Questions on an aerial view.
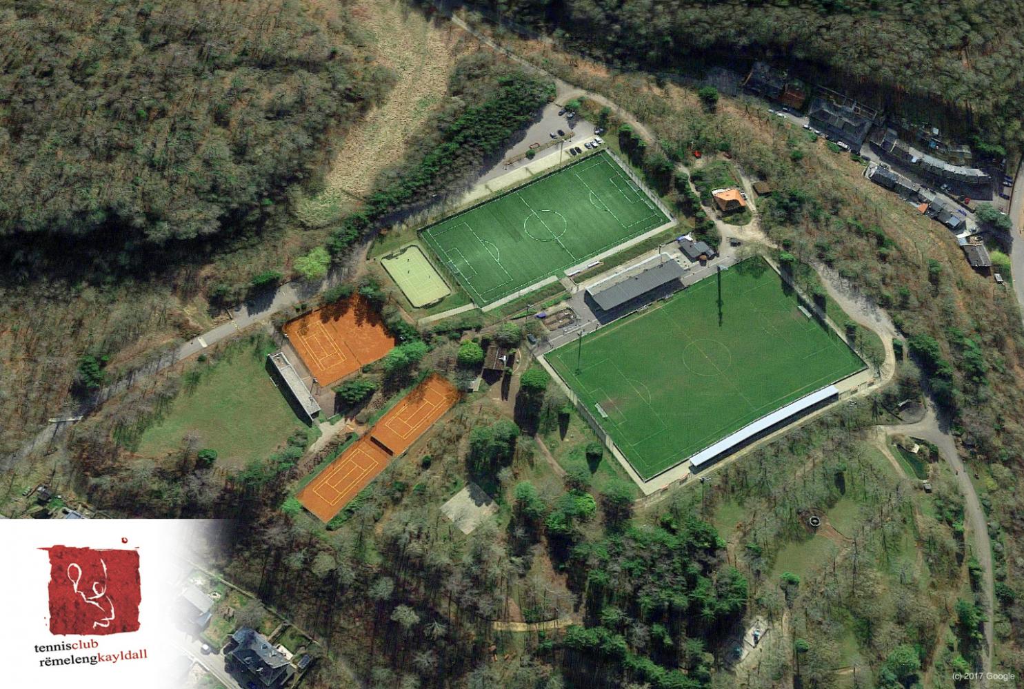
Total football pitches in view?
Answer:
two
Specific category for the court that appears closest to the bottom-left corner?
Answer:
tennis court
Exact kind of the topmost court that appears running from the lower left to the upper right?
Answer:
tennis court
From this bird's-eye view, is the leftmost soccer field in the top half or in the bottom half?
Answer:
top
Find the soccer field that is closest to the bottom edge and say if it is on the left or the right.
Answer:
right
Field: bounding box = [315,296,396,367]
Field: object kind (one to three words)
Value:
tennis court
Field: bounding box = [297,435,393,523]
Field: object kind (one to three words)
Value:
tennis court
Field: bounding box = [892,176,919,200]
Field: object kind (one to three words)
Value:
house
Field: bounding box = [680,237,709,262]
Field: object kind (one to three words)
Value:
building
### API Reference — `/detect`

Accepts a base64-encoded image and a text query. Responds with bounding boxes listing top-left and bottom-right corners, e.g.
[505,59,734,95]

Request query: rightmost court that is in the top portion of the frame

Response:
[381,244,451,307]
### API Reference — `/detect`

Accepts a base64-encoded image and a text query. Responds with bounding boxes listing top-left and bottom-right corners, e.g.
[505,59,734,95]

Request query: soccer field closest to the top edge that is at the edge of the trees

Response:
[419,150,671,308]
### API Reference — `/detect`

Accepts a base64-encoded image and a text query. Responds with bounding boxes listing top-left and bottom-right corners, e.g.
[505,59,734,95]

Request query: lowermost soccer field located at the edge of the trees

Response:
[545,256,867,480]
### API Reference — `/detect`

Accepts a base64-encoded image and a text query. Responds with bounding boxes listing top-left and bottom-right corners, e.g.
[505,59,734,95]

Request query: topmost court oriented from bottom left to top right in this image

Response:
[372,373,460,458]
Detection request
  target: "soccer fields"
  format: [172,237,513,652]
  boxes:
[419,150,671,308]
[545,256,867,480]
